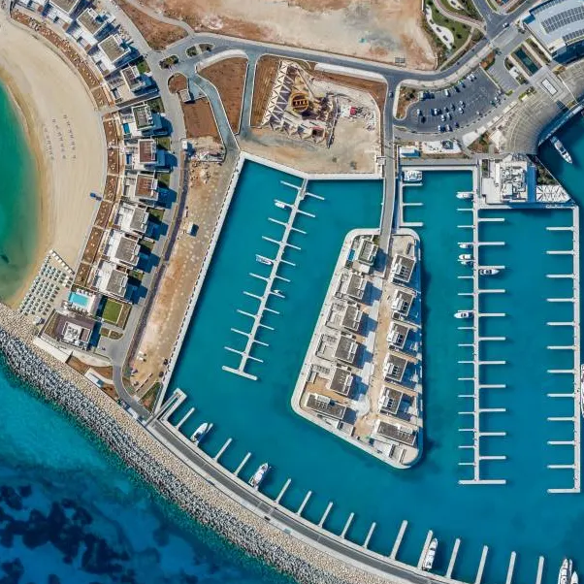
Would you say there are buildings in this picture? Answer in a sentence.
Yes, the photo shows a building.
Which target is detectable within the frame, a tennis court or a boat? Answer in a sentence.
It is a boat that can be seen here.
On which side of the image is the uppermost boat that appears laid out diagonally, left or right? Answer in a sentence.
The uppermost boat that appears laid out diagonally sits on the right side.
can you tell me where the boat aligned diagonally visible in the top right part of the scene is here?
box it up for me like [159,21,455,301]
[548,136,571,163]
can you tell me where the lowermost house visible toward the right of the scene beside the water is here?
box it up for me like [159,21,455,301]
[371,414,426,445]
